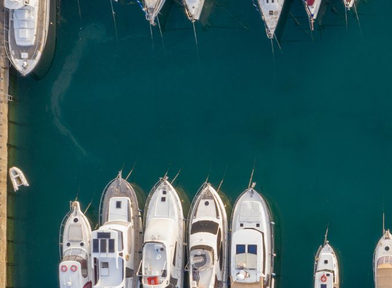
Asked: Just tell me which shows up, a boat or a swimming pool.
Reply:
boat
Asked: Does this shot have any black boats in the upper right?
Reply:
No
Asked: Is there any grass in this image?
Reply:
No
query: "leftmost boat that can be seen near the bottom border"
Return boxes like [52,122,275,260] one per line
[60,200,96,288]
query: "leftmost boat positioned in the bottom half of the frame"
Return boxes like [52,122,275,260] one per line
[9,168,30,193]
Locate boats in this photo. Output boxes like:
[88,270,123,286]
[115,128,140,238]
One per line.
[186,181,234,288]
[138,177,191,288]
[0,0,61,76]
[60,200,96,288]
[92,170,146,288]
[255,0,288,38]
[303,0,325,31]
[142,0,170,23]
[229,186,278,288]
[374,231,392,288]
[9,168,30,193]
[315,242,340,288]
[183,0,209,21]
[340,0,358,9]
